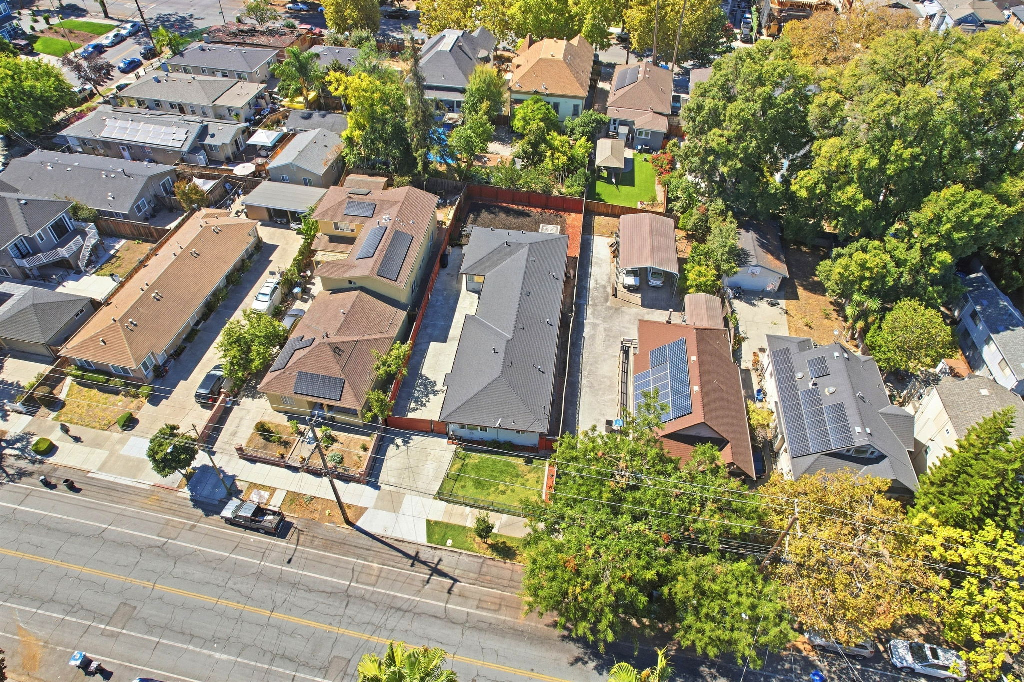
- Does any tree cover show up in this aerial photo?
Yes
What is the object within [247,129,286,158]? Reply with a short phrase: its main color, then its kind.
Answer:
white tent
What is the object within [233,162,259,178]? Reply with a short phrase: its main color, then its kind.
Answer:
white umbrella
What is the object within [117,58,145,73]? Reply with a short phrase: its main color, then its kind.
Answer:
blue car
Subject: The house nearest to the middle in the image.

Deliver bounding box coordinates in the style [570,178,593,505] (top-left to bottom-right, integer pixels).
[439,226,570,448]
